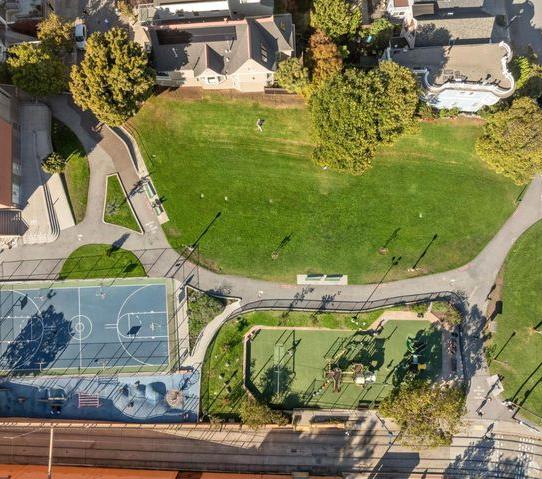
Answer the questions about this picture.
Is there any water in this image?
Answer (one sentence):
No, no water is visible.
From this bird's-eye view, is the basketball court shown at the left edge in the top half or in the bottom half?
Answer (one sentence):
You can find the basketball court shown at the left edge in the bottom half.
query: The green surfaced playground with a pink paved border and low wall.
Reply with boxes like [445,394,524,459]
[243,309,462,405]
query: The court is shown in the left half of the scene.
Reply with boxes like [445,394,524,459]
[0,276,176,375]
